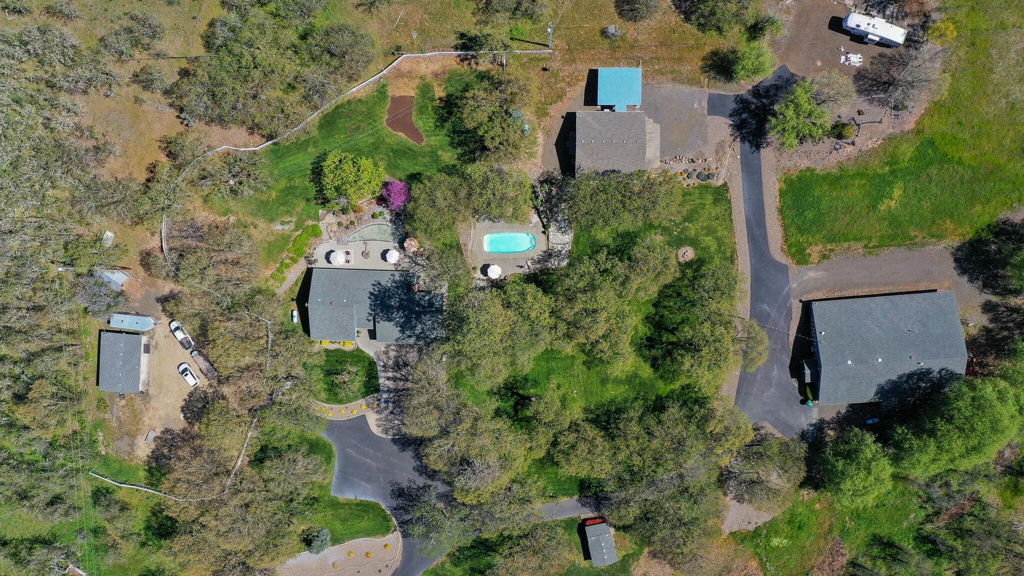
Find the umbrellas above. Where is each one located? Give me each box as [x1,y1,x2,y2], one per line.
[386,250,399,263]
[487,264,501,278]
[330,249,346,265]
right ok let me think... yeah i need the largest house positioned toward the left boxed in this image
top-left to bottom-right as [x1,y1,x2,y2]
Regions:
[302,268,446,345]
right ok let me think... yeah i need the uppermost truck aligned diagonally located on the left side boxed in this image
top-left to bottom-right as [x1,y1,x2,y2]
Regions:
[164,317,197,354]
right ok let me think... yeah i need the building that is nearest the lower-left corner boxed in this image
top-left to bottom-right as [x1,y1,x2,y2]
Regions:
[99,331,147,391]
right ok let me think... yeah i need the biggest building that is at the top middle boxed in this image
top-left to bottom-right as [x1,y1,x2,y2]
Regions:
[575,111,649,178]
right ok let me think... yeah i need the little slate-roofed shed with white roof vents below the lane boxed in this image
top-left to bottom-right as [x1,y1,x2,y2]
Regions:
[584,520,616,567]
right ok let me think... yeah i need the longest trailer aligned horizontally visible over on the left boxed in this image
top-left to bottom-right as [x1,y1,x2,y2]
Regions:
[109,312,162,330]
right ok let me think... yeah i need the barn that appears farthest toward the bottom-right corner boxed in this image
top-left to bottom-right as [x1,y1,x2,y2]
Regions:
[800,291,970,405]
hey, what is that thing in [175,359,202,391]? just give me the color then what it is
white car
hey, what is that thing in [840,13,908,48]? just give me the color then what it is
white vehicle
